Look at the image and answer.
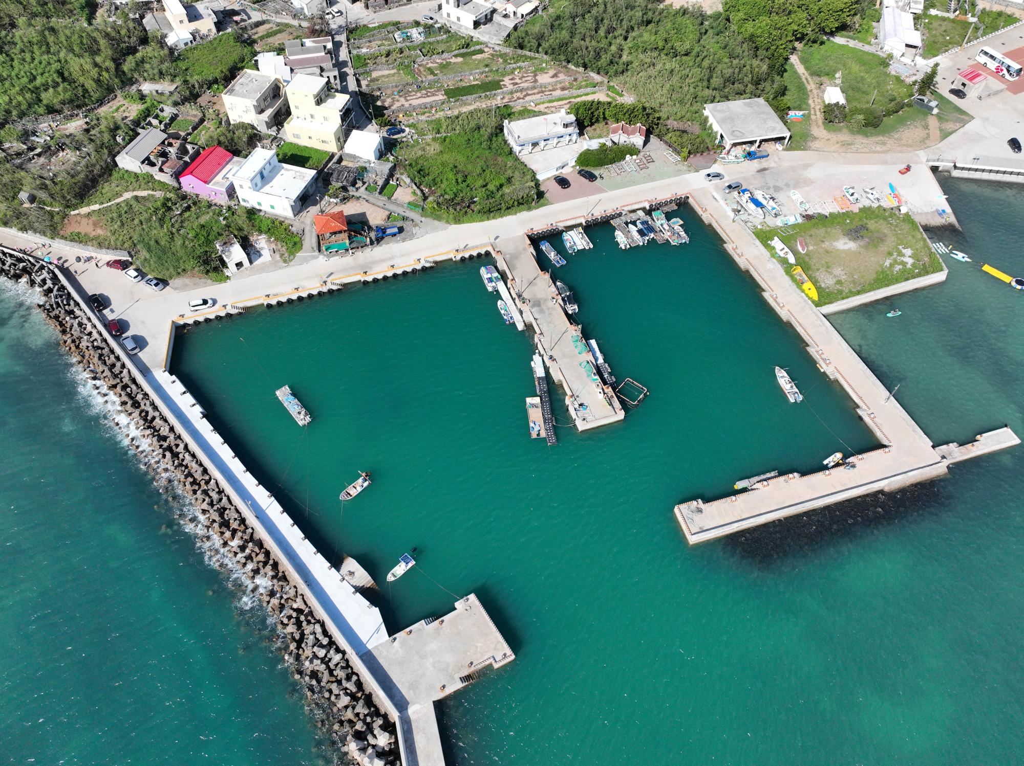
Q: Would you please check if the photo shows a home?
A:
Yes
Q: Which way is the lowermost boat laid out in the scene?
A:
on a diagonal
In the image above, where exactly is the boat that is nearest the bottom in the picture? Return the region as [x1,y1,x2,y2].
[387,548,415,580]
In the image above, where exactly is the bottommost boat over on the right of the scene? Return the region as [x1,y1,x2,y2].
[819,449,845,469]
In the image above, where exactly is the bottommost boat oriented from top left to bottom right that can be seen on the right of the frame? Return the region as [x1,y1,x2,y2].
[778,364,804,403]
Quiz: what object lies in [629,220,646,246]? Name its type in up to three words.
boat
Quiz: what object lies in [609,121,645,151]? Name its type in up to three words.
house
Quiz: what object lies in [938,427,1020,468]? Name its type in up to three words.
pier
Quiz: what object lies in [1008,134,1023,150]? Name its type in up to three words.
car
